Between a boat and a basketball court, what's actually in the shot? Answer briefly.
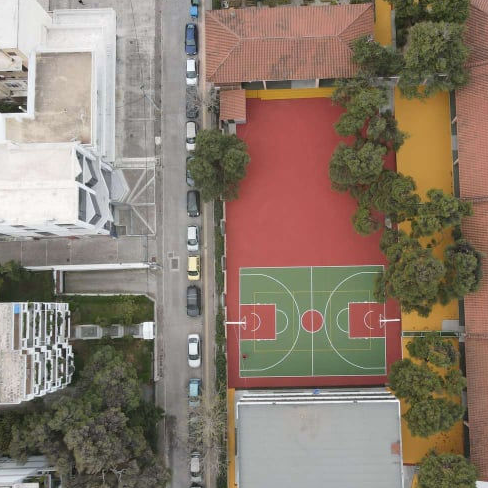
basketball court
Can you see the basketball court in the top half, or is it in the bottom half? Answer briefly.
bottom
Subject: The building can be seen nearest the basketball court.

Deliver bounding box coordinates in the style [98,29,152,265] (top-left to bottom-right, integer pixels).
[235,389,403,488]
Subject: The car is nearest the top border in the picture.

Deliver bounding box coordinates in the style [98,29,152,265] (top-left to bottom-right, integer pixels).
[183,25,198,55]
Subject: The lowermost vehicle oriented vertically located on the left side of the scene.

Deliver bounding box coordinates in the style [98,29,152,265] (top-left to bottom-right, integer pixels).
[187,447,203,482]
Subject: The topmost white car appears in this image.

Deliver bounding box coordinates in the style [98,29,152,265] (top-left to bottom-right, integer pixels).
[183,59,198,87]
